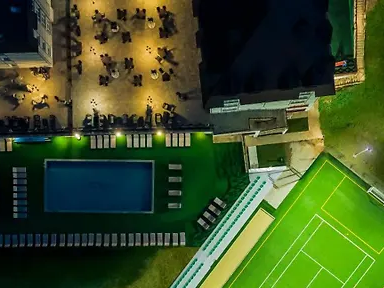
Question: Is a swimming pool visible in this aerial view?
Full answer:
Yes, the image includes a swimming pool.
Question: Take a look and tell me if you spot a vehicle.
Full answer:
No, the photo shows no vehicle.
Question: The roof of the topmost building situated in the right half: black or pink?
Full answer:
The roof of the topmost building situated in the right half is black.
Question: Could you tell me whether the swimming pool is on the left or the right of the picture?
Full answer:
The swimming pool appears in the left half of the scene.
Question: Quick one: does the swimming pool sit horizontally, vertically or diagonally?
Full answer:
The swimming pool is oriented horizontally.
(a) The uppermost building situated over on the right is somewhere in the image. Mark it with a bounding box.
[188,0,336,114]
